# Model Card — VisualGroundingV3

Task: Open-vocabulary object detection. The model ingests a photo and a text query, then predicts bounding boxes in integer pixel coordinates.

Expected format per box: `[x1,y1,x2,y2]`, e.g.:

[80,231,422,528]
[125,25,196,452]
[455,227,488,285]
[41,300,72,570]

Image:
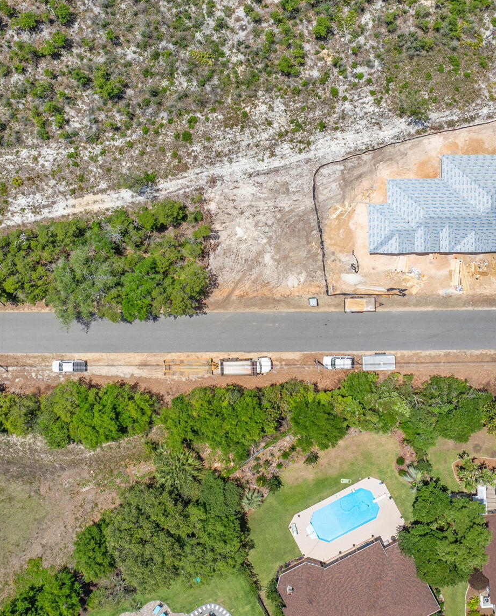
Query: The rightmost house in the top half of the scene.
[369,155,496,262]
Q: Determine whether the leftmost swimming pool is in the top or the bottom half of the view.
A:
bottom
